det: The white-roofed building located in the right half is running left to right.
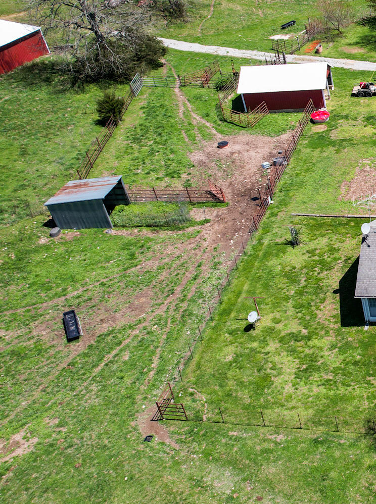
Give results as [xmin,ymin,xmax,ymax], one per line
[234,64,340,112]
